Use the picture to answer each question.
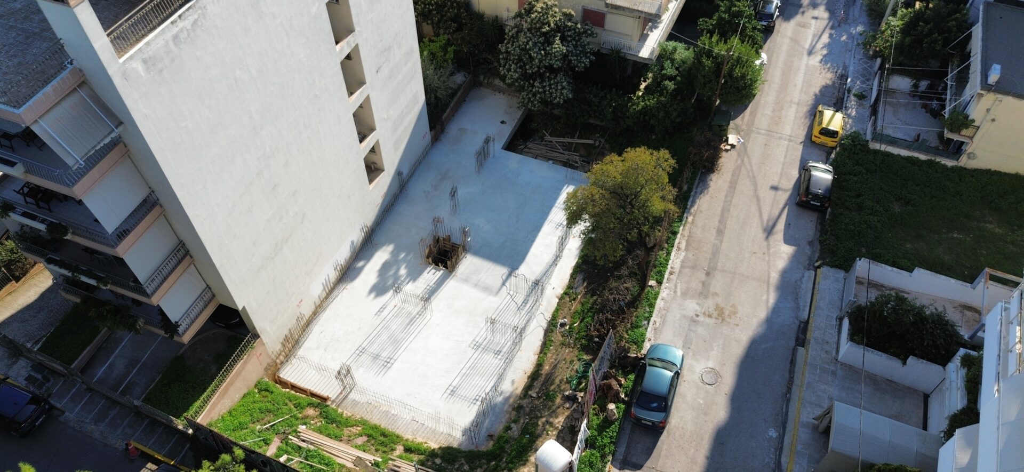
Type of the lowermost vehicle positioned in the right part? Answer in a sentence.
In the photo, the lowermost vehicle positioned in the right part shows up as a car.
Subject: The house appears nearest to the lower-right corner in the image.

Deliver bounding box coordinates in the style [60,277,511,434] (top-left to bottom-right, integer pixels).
[949,301,1024,472]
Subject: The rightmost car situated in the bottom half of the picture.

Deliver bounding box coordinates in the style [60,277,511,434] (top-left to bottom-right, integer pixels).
[627,339,685,430]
